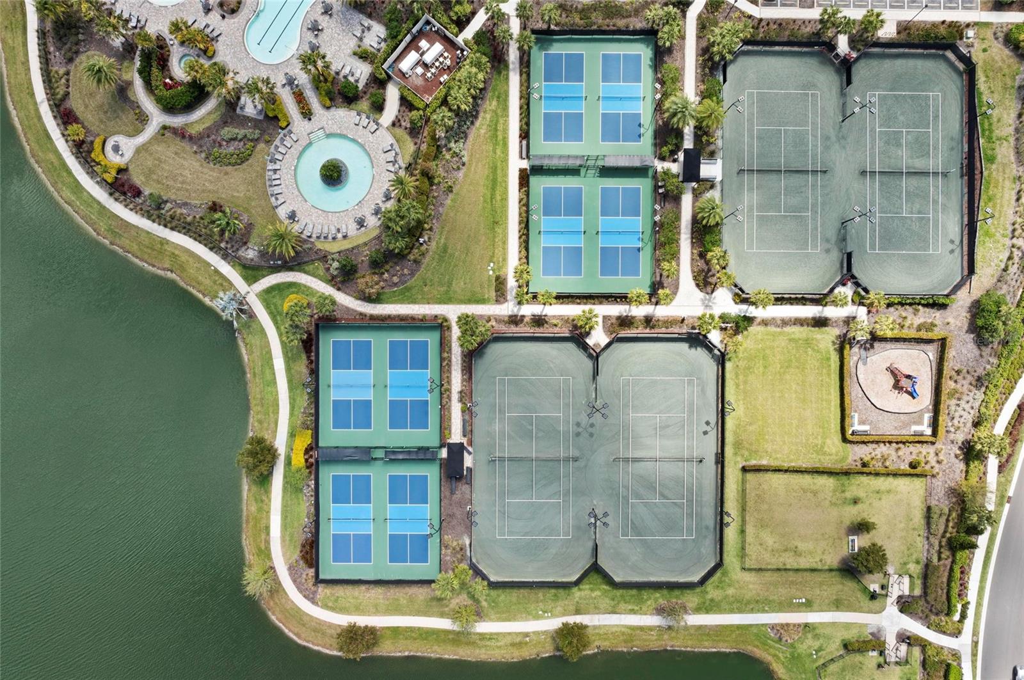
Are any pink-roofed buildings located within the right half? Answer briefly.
No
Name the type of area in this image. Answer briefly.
sports ground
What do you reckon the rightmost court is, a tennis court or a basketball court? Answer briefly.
tennis court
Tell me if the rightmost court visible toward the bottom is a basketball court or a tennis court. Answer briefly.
tennis court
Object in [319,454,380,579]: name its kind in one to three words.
sports court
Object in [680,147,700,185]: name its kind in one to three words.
building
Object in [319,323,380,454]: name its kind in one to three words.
sports court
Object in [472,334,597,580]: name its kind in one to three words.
tennis court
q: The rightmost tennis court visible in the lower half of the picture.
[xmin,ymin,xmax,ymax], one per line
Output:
[597,334,721,581]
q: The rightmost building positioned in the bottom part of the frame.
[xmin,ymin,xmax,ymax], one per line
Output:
[447,442,464,478]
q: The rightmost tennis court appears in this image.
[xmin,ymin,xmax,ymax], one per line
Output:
[846,52,963,294]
